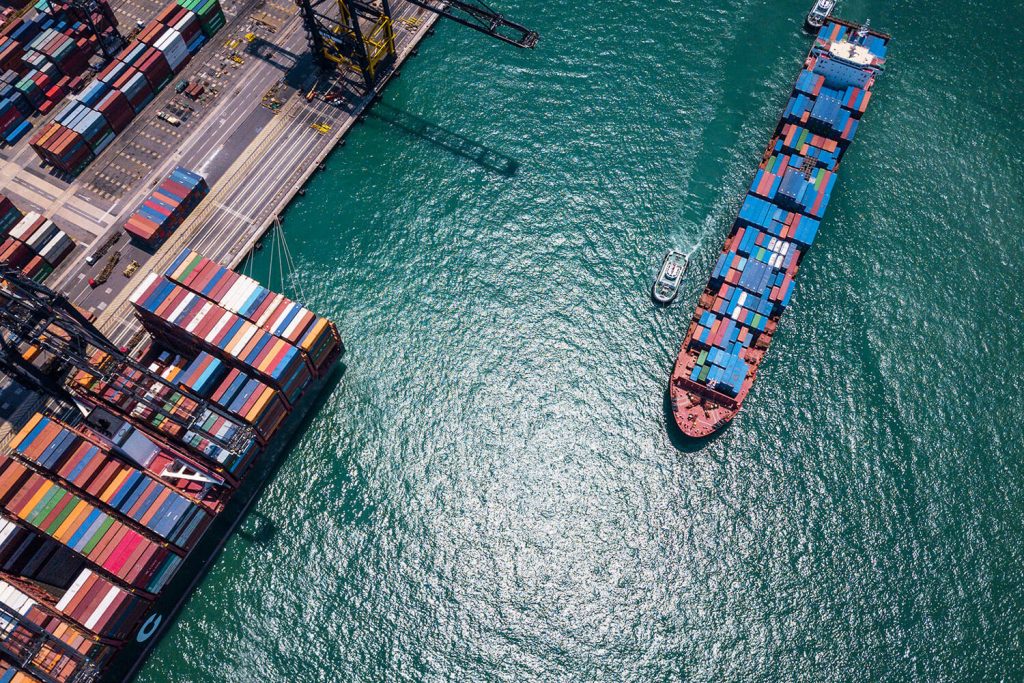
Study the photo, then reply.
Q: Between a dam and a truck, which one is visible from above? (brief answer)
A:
truck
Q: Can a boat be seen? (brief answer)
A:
Yes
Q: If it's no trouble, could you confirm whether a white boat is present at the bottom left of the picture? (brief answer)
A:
No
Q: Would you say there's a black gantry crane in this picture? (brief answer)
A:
Yes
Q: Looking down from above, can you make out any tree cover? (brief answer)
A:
No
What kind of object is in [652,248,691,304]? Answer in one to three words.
boat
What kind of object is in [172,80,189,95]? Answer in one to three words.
vehicle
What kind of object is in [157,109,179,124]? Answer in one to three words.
vehicle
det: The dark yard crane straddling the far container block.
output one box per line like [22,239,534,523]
[37,0,122,61]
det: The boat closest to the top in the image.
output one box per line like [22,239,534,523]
[808,0,838,29]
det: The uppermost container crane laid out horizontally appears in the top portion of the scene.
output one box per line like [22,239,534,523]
[289,0,538,94]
